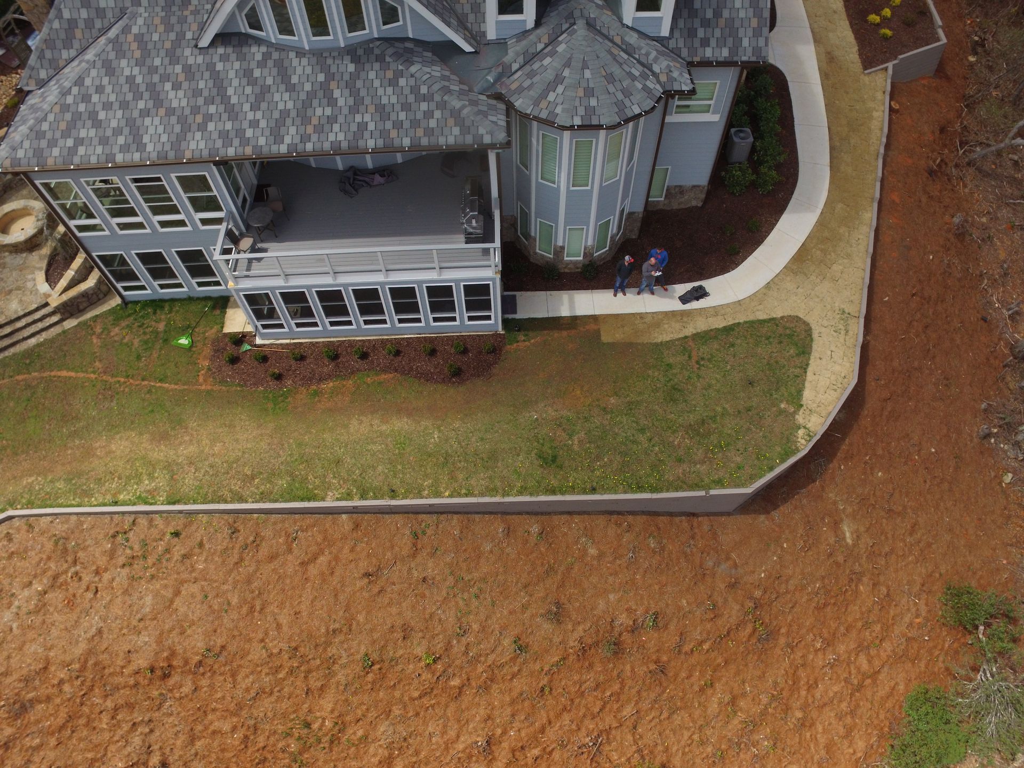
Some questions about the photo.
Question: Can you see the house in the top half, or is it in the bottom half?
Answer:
top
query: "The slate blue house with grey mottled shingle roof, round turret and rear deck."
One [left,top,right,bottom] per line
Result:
[0,0,773,343]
